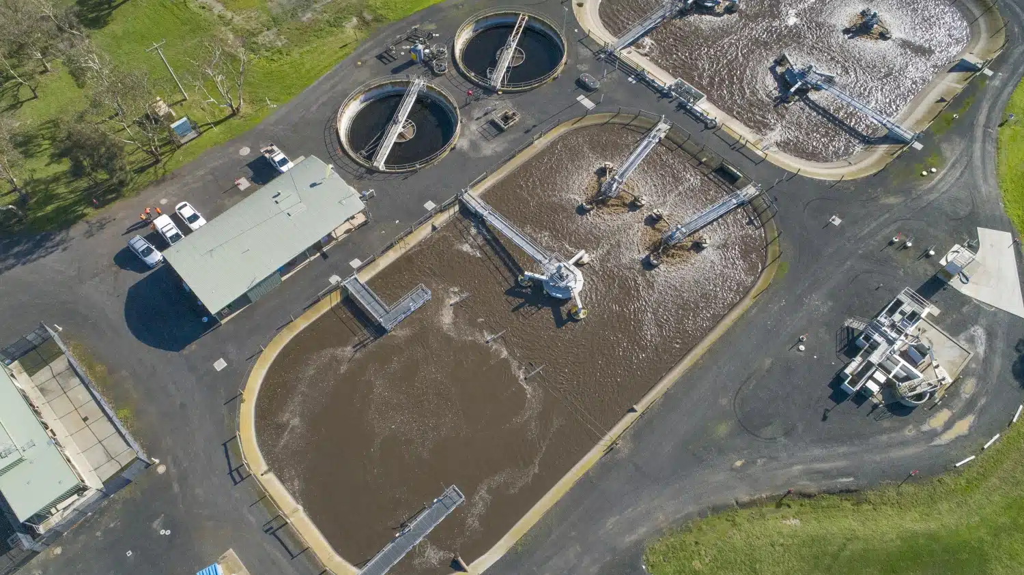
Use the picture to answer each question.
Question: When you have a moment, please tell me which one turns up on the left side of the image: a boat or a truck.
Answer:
truck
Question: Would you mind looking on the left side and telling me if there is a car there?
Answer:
Yes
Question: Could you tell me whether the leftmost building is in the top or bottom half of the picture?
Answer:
bottom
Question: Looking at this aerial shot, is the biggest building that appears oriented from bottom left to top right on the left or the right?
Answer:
left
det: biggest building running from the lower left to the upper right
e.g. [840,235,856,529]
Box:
[162,157,368,332]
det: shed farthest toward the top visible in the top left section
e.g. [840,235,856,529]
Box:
[169,115,197,145]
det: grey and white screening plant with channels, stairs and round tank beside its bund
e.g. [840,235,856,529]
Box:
[835,284,942,399]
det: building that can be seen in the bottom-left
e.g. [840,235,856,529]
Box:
[0,360,92,524]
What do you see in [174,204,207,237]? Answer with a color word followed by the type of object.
white car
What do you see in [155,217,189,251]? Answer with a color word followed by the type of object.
white truck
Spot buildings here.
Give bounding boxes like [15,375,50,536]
[162,157,368,332]
[0,360,92,524]
[169,115,197,145]
[835,284,942,399]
